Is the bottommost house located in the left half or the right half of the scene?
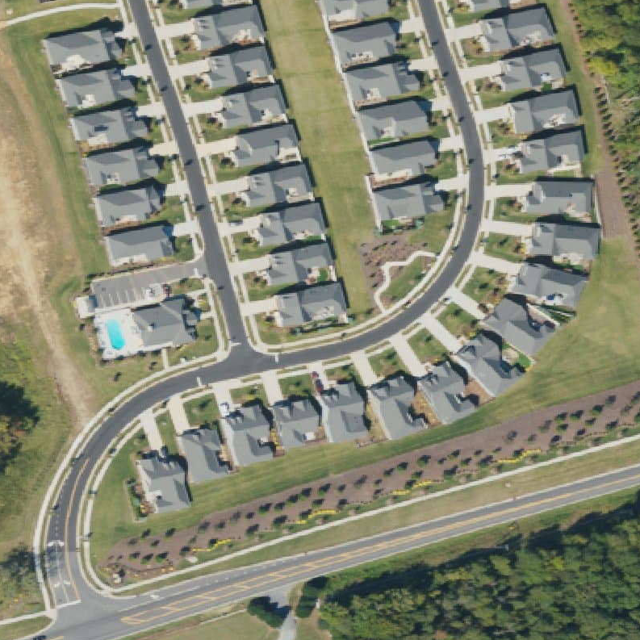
left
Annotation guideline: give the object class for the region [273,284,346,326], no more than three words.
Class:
house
